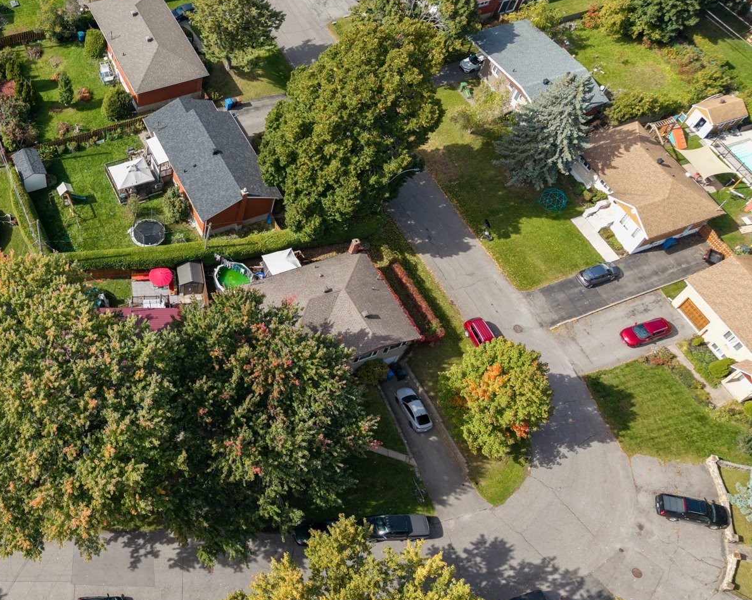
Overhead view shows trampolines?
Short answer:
Yes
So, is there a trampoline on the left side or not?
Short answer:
Yes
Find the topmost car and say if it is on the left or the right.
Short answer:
left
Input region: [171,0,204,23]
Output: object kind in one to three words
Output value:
car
